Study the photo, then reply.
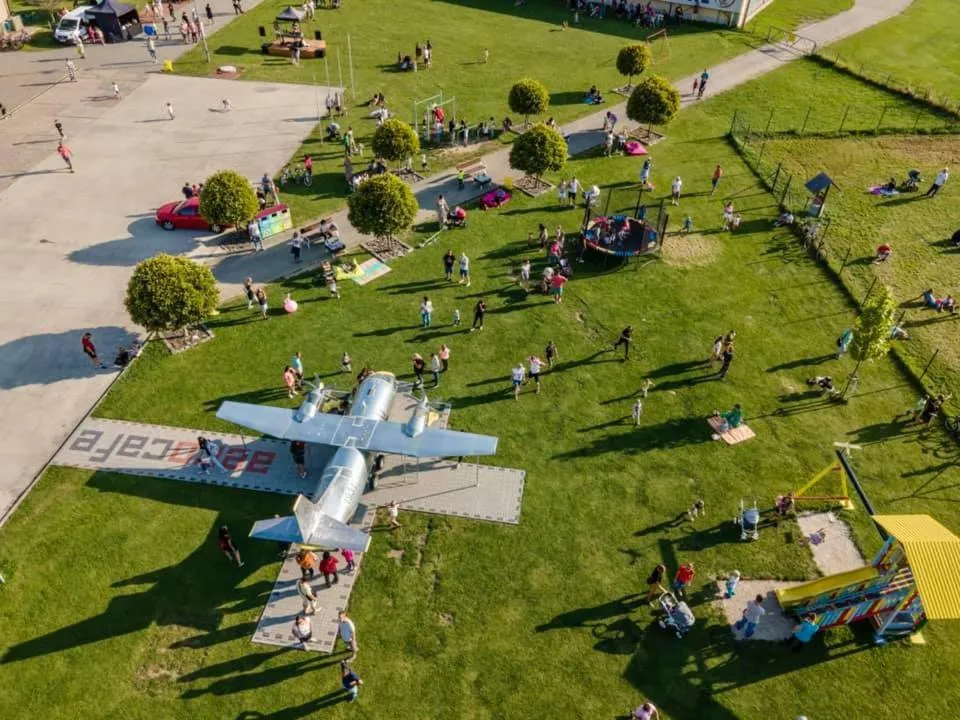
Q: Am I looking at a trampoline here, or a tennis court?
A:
trampoline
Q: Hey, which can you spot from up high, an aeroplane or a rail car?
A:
aeroplane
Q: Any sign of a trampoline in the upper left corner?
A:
No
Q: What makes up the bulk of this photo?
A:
grass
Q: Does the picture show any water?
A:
No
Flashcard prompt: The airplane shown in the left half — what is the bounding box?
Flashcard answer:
[213,367,498,556]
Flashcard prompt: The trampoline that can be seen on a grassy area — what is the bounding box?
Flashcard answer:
[580,184,666,269]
